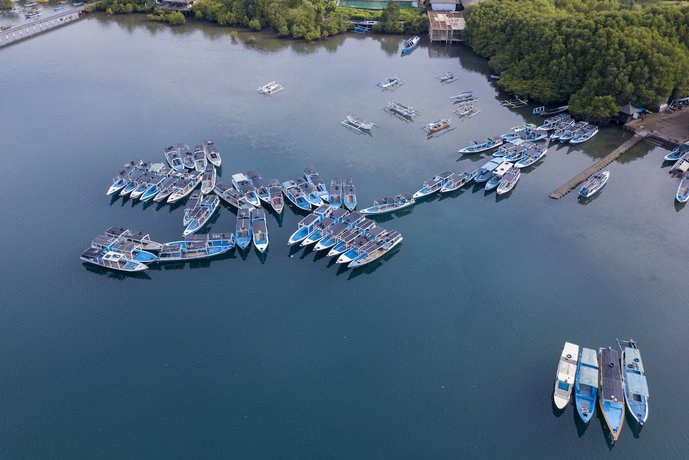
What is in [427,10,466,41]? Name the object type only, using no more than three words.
building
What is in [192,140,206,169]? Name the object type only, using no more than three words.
boat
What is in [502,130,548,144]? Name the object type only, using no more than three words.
boat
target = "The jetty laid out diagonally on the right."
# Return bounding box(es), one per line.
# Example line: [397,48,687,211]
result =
[551,133,651,201]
